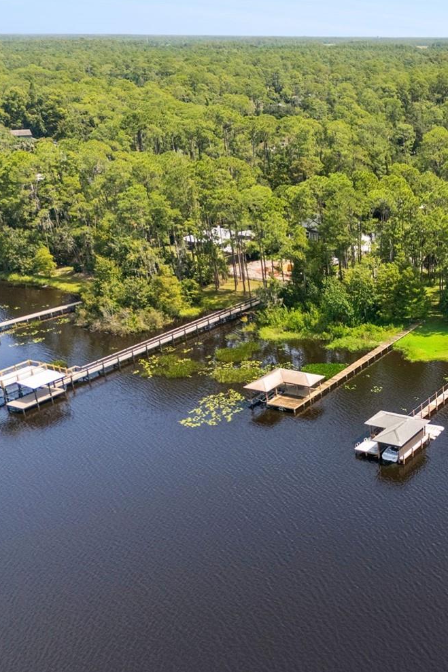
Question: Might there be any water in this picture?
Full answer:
Yes, some water is visible.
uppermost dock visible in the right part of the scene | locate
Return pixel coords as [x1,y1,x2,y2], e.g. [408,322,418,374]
[315,324,423,392]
